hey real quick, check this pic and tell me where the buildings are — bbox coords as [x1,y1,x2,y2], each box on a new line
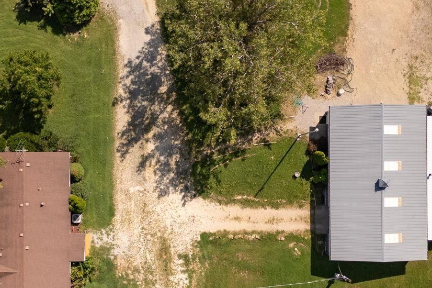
[0,152,87,288]
[325,102,429,262]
